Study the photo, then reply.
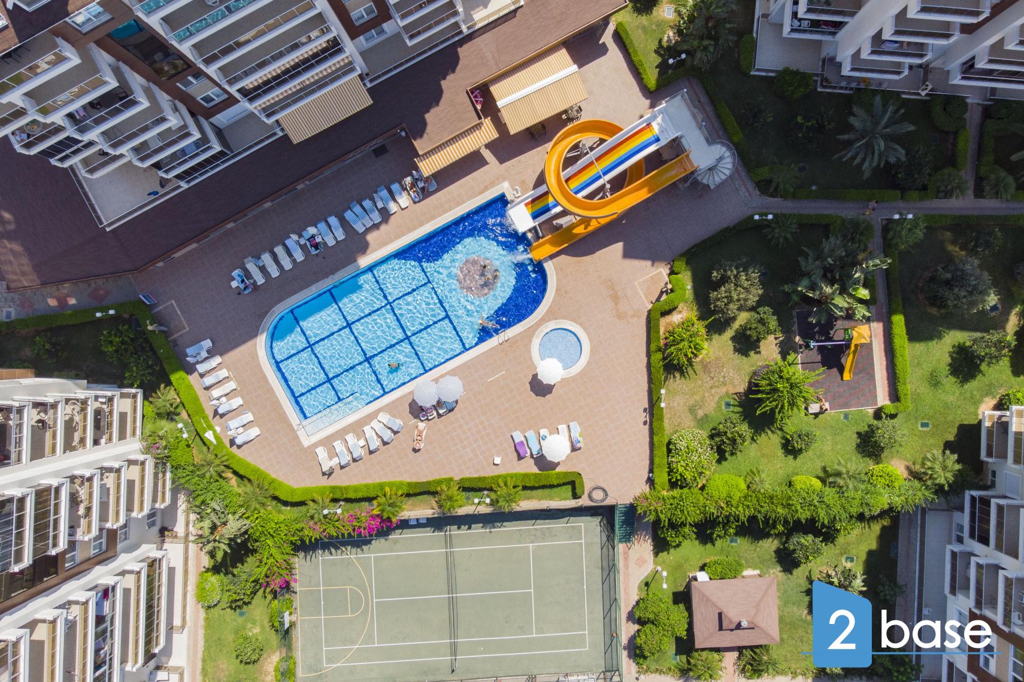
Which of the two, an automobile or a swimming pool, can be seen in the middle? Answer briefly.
swimming pool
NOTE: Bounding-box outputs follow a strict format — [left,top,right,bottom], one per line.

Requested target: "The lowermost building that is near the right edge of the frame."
[901,406,1024,682]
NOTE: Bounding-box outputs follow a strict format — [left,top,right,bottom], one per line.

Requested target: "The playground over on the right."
[795,307,879,414]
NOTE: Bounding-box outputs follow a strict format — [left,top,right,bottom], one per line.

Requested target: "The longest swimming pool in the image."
[257,181,556,447]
